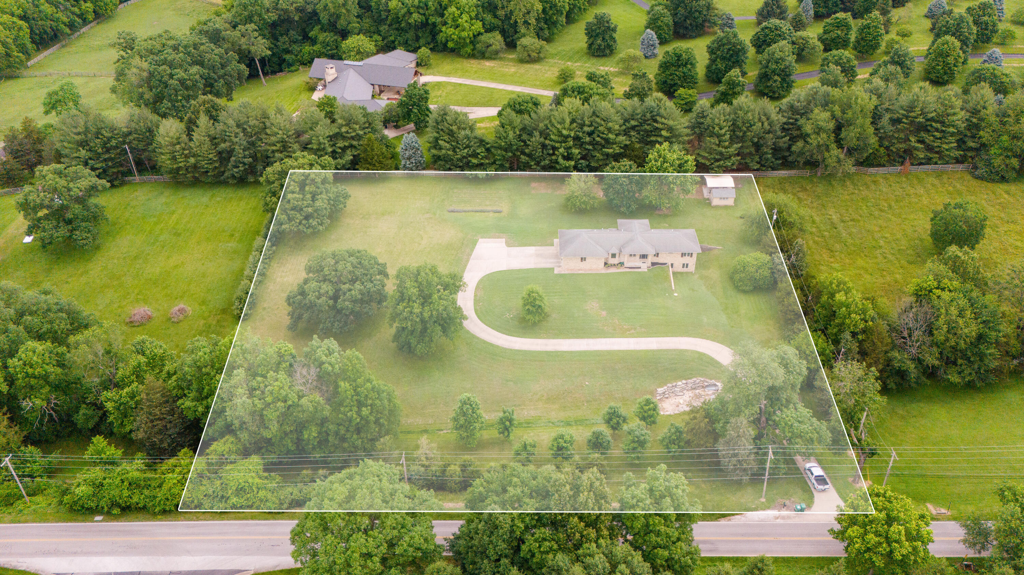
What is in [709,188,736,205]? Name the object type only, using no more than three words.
shed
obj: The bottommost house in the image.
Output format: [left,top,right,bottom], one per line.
[557,219,702,274]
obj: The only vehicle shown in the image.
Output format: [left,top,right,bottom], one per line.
[804,461,830,491]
